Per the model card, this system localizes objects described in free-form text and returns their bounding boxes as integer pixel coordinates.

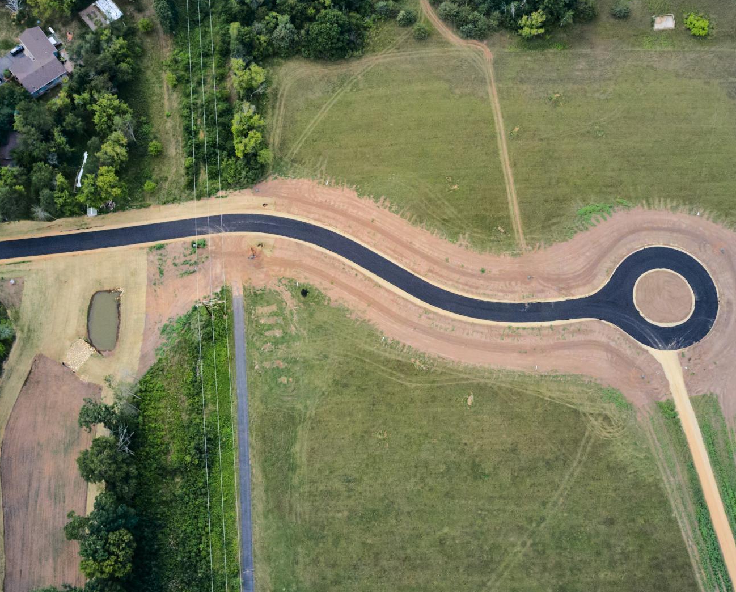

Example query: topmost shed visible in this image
[96,0,126,25]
